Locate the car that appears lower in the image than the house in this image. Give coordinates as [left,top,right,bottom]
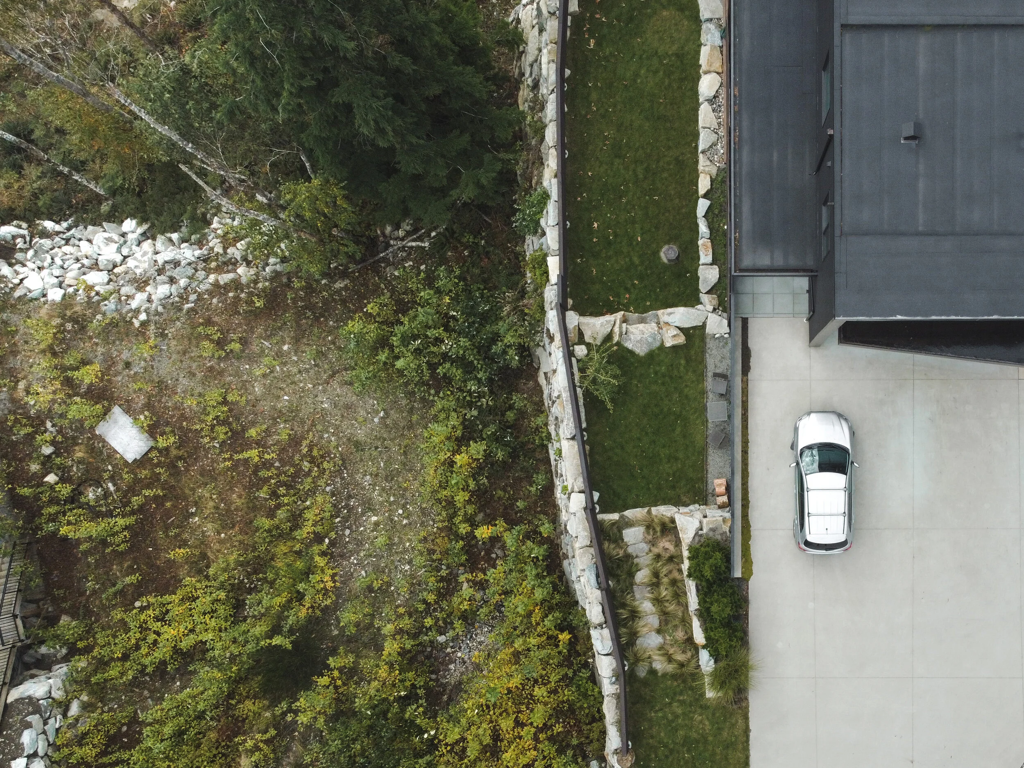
[790,411,860,555]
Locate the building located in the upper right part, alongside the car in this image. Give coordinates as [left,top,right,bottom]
[724,0,1024,366]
